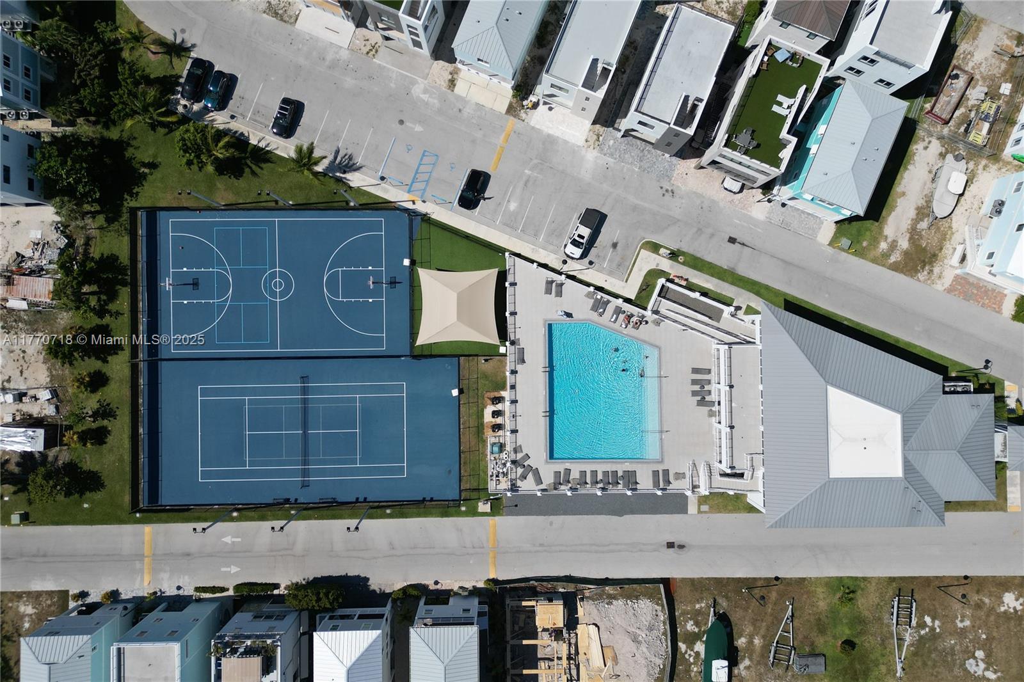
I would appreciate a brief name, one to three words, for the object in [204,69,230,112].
car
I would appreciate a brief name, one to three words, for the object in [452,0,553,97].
house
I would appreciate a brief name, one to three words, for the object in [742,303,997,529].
building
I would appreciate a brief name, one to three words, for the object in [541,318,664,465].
swimming pool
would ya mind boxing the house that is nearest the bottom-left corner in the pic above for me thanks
[20,598,140,682]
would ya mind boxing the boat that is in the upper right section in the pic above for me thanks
[938,150,972,215]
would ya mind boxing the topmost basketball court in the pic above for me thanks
[142,210,421,359]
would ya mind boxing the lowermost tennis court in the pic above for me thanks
[142,357,460,507]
